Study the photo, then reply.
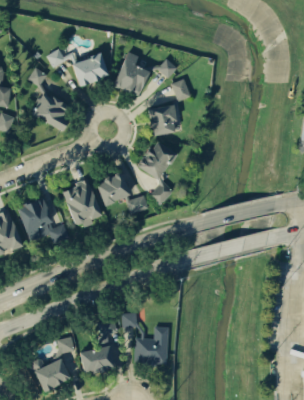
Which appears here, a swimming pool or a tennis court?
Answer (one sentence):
There is a swimming pool in the scene.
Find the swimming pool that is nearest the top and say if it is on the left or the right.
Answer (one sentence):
You can find the swimming pool that is nearest the top on the left side of the picture.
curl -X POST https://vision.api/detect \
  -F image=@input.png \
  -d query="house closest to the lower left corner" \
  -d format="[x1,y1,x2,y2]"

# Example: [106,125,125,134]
[34,358,72,394]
